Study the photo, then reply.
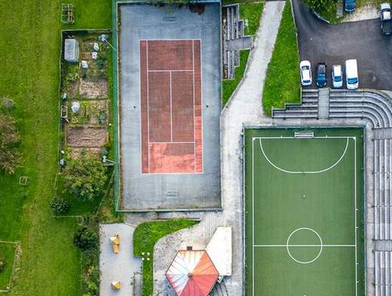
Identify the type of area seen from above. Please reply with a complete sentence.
This looks like a sports ground.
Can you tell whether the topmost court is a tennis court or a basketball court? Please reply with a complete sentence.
It looks like the topmost court is a tennis court.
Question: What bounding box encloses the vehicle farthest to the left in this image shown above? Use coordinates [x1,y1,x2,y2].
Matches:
[299,60,312,85]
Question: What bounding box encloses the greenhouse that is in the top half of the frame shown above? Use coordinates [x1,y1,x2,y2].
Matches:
[64,37,78,62]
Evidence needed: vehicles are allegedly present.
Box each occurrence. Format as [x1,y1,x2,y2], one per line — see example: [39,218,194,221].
[346,58,360,88]
[381,2,392,35]
[332,63,345,86]
[316,63,328,85]
[299,60,312,85]
[344,0,357,11]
